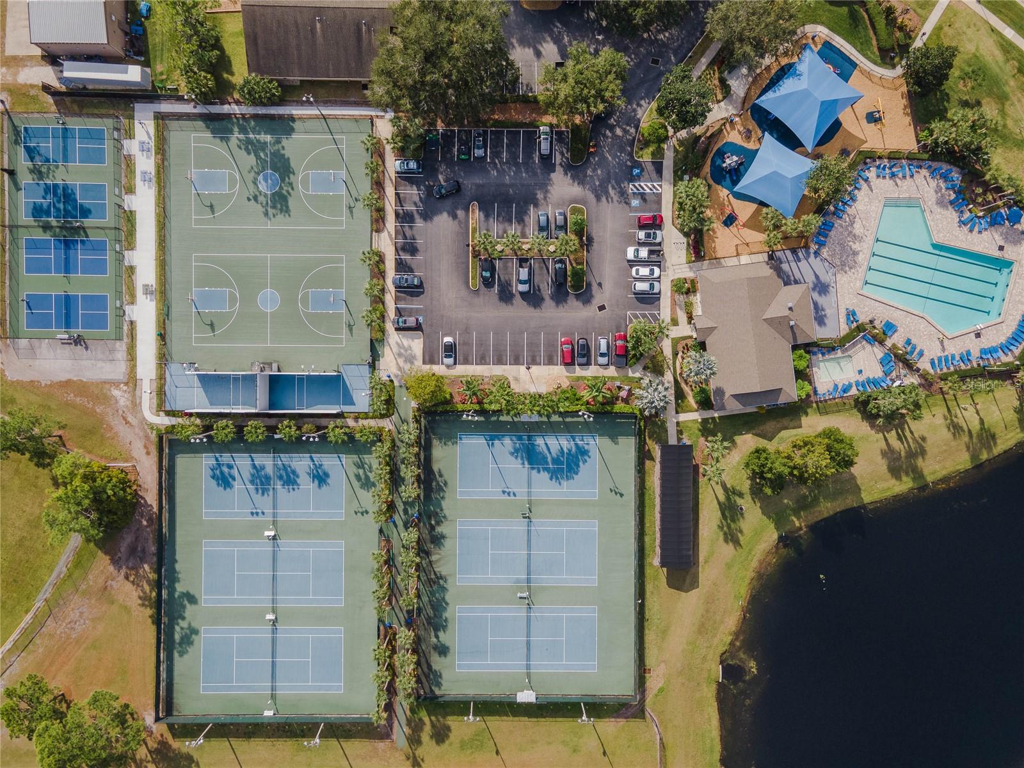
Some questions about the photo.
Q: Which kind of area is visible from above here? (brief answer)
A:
sports ground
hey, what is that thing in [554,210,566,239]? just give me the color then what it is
gray vehicle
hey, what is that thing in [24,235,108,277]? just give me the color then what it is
blue sports court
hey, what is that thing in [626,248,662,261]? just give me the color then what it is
white vehicle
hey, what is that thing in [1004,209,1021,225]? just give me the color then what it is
blue umbrella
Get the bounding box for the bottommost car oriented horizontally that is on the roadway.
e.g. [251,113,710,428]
[393,316,421,329]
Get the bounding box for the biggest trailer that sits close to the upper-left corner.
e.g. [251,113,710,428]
[53,60,144,87]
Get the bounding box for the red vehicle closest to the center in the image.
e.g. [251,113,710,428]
[561,338,574,365]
